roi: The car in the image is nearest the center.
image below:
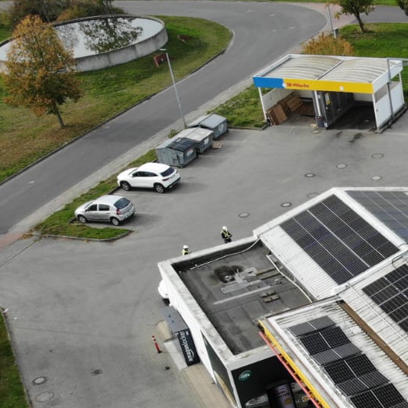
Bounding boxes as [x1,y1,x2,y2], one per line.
[116,163,179,192]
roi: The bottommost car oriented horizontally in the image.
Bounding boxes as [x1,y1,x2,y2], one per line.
[73,196,136,225]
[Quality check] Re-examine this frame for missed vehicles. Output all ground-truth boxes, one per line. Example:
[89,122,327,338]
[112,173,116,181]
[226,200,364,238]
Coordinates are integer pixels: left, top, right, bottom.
[73,196,136,225]
[157,283,168,301]
[116,163,179,192]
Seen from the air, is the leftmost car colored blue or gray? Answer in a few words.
gray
